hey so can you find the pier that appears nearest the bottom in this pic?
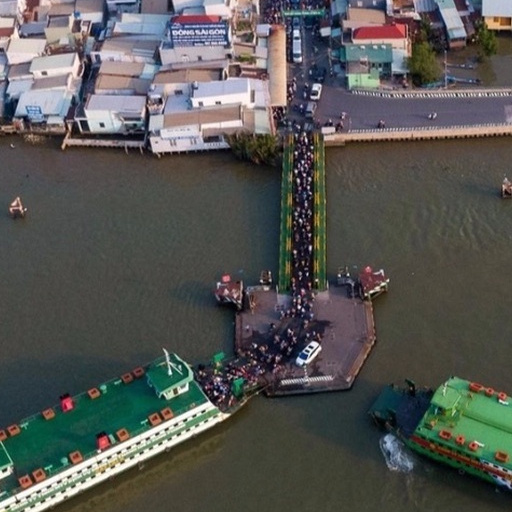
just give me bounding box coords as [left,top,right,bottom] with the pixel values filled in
[233,283,378,401]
